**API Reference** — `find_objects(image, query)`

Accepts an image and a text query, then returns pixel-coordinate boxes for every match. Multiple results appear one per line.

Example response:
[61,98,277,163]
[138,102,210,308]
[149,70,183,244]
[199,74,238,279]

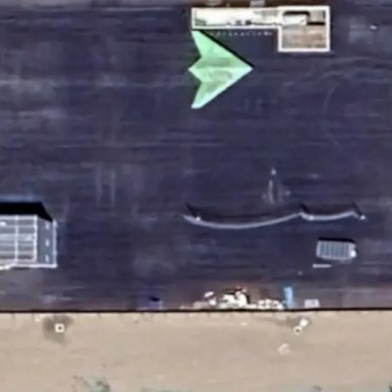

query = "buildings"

[0,215,55,270]
[191,7,334,53]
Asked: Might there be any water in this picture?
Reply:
No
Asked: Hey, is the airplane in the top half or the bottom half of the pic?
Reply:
top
